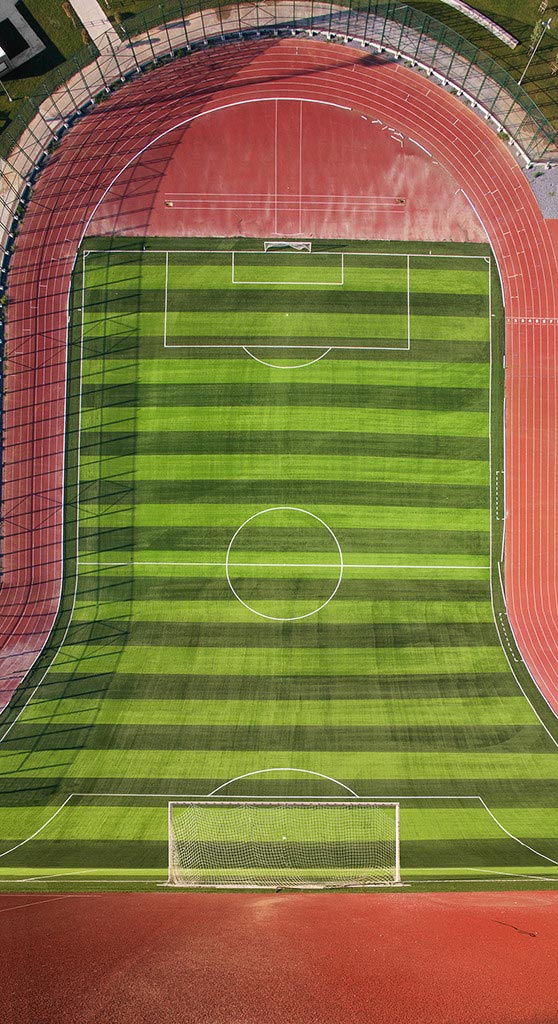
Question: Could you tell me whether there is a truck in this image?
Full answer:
No, the frame has no truck in it.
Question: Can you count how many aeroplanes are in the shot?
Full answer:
No aeroplanes are visible.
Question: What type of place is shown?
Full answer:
What you see here is a sports ground.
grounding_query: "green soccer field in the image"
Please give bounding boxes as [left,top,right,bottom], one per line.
[0,236,558,893]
